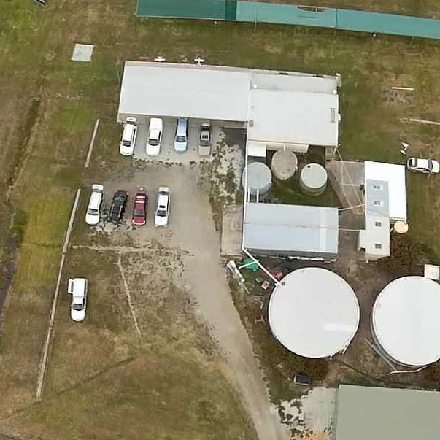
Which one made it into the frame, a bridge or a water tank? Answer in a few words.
water tank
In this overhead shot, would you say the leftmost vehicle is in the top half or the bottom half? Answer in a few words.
bottom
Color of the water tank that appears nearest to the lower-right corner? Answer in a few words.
white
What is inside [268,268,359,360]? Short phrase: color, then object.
white water tank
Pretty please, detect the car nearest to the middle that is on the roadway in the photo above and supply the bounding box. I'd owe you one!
[153,187,171,228]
